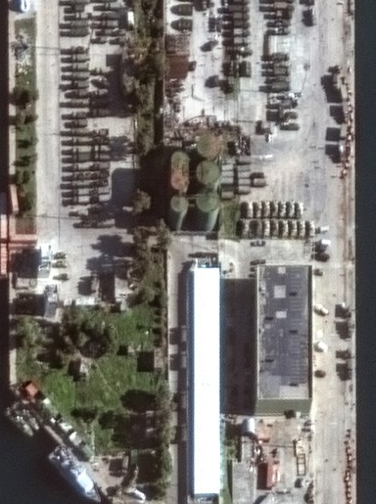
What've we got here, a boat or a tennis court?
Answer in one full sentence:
Looking from above, you can make out a boat.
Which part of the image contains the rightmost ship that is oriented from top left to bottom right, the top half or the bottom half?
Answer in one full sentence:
The rightmost ship that is oriented from top left to bottom right is in the bottom half of the image.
